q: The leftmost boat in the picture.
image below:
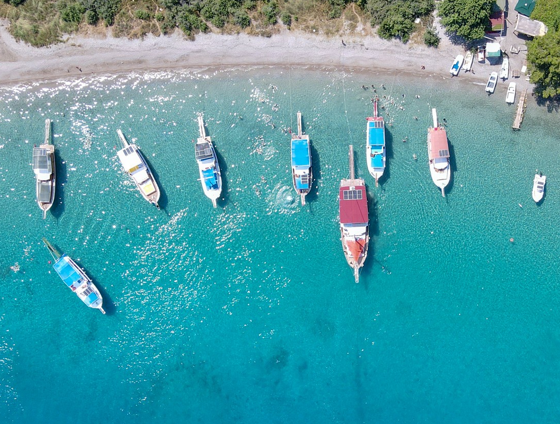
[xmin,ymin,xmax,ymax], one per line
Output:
[32,119,58,219]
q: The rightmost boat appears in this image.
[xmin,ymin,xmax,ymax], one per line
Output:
[532,171,546,202]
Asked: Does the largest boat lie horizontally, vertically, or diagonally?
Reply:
vertically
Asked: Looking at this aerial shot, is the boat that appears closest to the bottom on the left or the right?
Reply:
left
